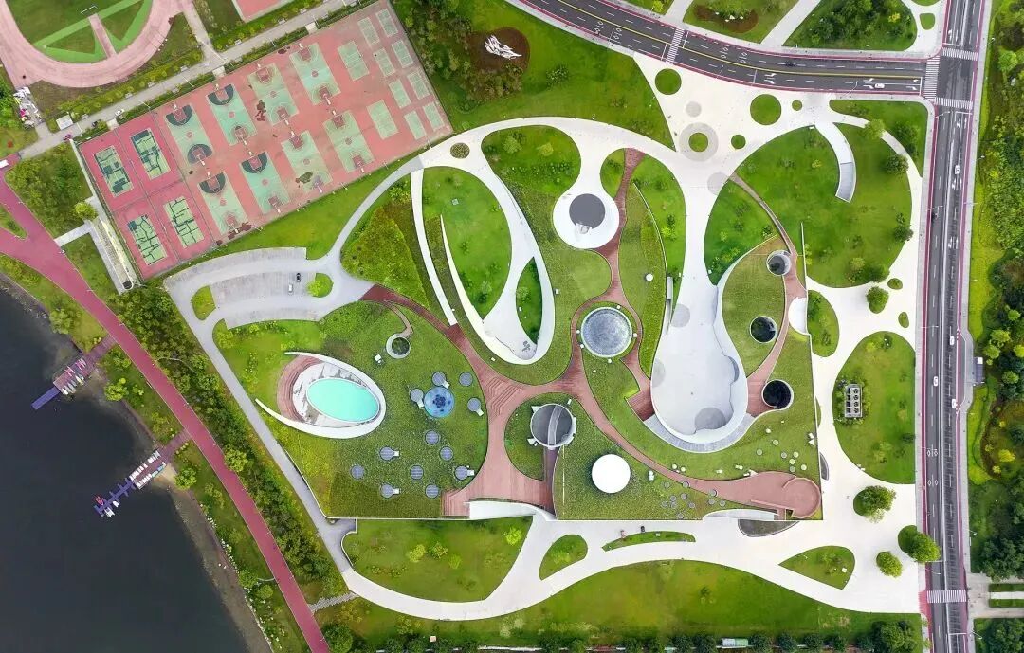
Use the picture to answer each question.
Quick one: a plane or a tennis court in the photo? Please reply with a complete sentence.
Visible in the photo is a tennis court.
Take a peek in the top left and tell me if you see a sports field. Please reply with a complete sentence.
Yes, there is a sports field in the top left.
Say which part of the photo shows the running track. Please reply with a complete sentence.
Look in the top left portion of the view to spot the running track.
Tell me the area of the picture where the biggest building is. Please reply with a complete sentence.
The biggest building appears toward the center of the photo.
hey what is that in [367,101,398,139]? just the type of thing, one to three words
sports court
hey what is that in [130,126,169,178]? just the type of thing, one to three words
tennis court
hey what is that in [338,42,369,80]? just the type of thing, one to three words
sports court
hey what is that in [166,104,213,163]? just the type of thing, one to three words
basketball court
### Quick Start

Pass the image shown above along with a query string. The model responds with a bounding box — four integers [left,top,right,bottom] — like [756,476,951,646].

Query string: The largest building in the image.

[213,125,822,520]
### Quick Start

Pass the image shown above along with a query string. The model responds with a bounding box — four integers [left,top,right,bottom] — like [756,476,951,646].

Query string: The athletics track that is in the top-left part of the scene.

[0,0,183,88]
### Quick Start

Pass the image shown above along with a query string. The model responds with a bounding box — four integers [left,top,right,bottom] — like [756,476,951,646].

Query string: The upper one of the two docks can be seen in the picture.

[32,335,116,409]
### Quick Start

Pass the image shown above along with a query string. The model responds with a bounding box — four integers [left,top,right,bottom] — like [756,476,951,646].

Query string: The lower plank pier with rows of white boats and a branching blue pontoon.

[94,431,189,516]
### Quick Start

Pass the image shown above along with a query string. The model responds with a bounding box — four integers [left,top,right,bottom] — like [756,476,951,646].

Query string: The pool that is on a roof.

[308,379,378,421]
